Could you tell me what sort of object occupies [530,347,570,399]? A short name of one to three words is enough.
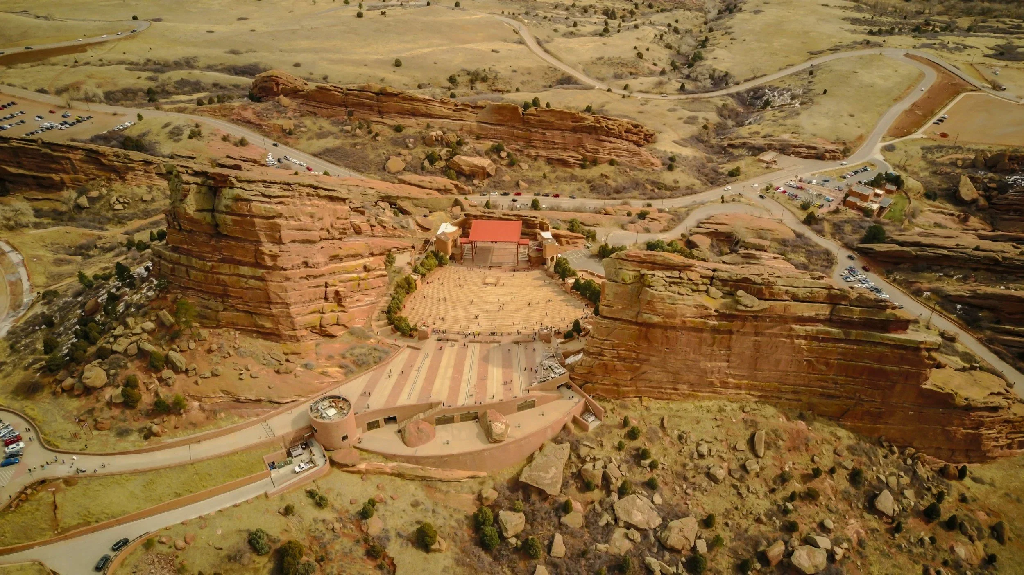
building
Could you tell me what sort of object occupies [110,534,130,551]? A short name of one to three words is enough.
car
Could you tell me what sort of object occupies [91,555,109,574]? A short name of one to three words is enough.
car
